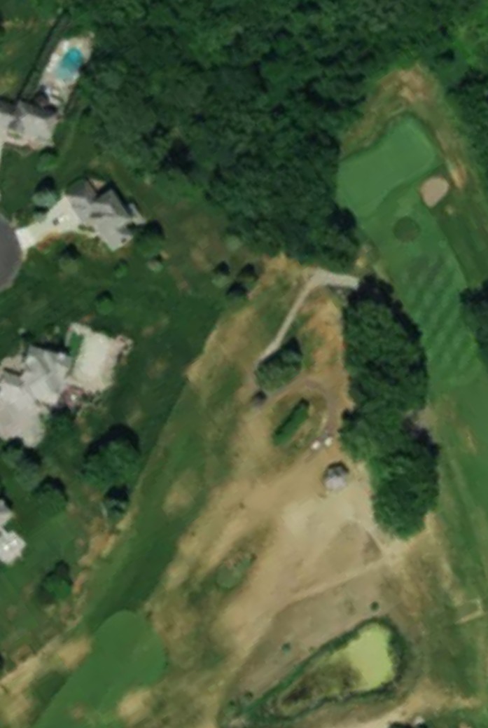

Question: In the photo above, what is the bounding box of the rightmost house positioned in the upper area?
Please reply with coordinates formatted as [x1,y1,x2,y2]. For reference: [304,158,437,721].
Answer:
[62,177,136,252]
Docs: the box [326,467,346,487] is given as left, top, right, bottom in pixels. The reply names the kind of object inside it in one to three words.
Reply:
building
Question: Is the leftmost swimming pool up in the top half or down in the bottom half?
top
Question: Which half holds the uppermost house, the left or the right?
left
